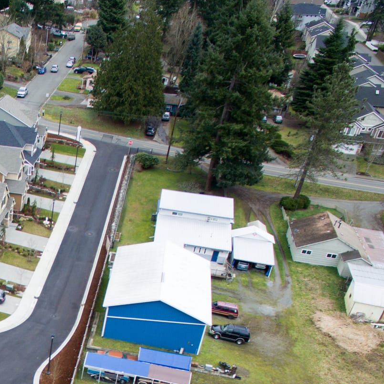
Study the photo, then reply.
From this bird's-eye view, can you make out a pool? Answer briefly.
No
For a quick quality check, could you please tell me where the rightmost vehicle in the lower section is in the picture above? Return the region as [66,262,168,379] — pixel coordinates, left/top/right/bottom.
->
[250,262,266,275]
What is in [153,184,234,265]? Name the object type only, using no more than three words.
house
